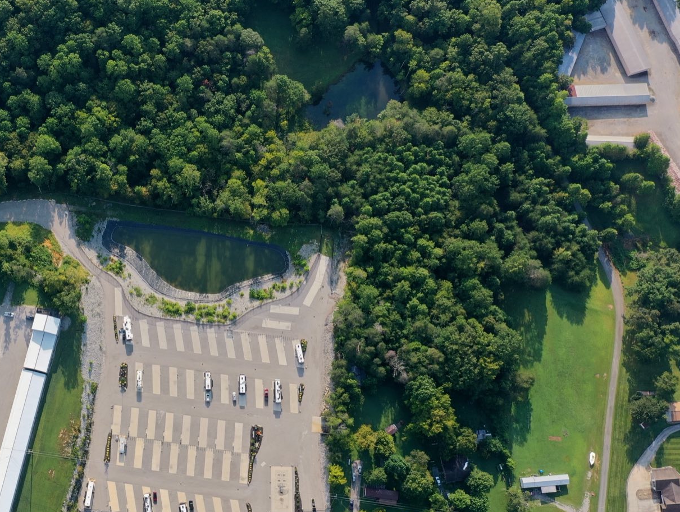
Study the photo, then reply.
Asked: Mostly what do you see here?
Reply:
trees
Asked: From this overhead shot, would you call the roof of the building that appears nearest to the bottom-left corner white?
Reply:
Yes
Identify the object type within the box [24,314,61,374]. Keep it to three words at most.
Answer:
building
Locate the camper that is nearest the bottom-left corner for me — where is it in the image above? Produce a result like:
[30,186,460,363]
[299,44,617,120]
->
[81,479,94,510]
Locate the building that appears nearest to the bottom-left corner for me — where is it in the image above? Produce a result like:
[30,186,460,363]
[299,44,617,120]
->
[0,369,47,512]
